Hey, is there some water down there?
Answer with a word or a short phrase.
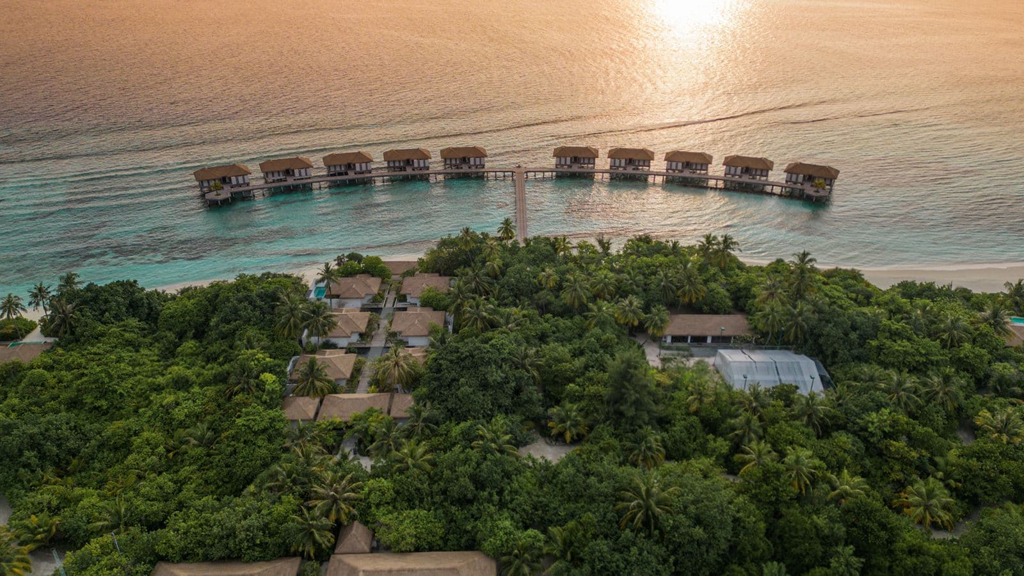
Yes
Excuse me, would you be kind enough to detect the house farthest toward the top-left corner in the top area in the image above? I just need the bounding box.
[197,165,250,195]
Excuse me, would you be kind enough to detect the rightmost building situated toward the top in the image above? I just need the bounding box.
[788,167,840,196]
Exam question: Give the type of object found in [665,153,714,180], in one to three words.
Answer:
house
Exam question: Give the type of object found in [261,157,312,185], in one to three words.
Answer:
house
